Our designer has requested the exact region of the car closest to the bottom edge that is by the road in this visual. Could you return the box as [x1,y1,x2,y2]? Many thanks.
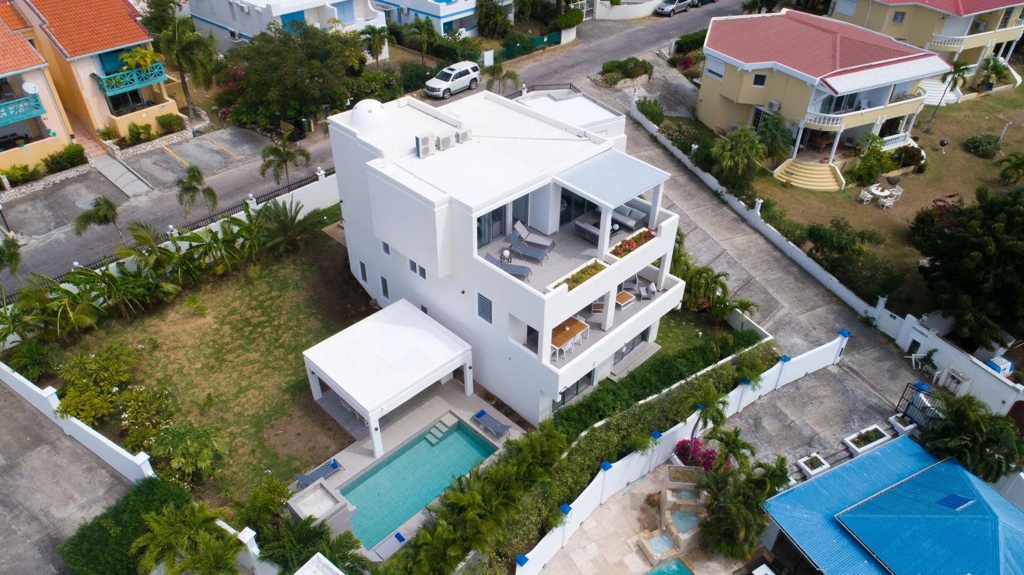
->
[420,59,483,100]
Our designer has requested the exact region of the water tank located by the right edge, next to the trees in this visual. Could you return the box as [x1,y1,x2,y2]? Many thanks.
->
[984,352,1023,379]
